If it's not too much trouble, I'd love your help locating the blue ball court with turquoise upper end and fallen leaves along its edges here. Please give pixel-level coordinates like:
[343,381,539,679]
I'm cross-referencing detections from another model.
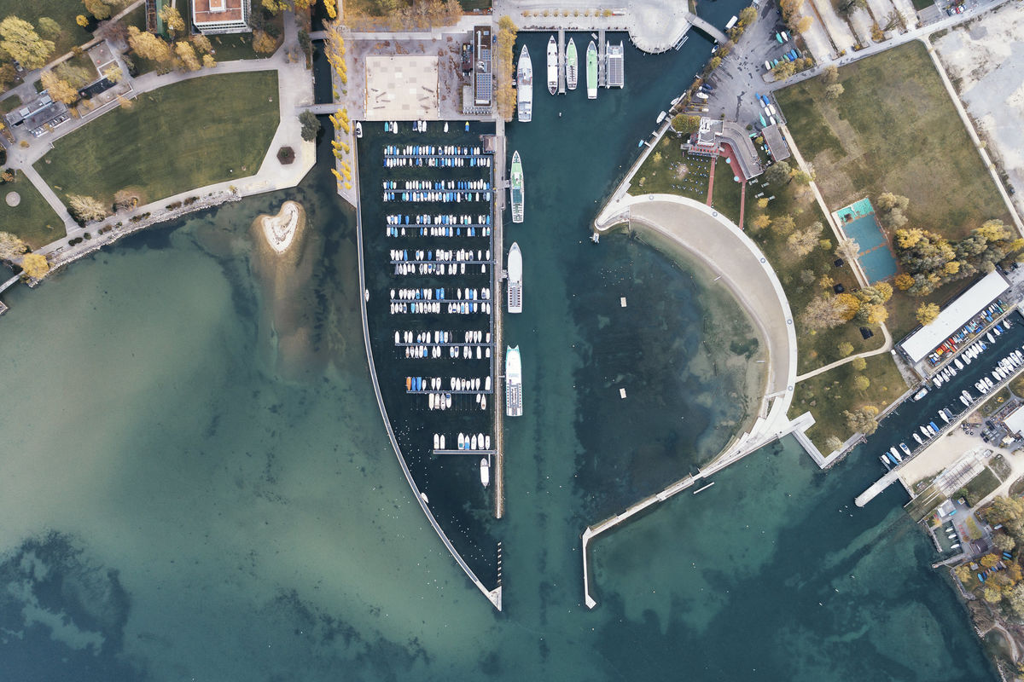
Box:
[836,197,900,284]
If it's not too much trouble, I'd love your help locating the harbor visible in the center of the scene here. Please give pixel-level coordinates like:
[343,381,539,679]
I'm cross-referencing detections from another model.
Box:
[355,120,511,612]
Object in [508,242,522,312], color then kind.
white ship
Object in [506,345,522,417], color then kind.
white ship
